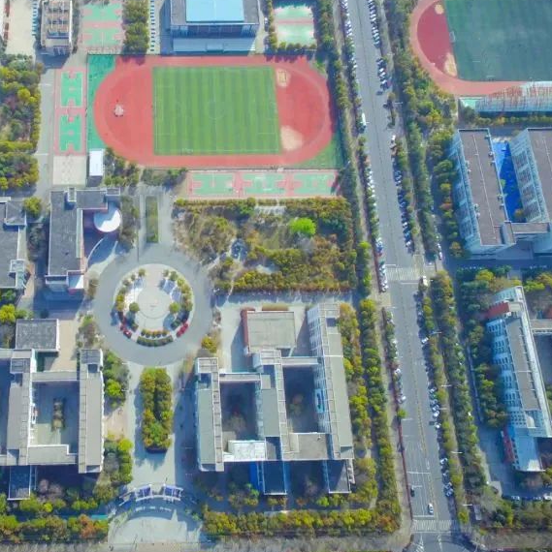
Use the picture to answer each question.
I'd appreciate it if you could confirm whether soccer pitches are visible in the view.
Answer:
Yes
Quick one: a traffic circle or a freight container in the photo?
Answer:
traffic circle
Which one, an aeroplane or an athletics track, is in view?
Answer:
athletics track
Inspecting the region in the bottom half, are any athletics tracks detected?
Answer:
No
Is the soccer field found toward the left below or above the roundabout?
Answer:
above it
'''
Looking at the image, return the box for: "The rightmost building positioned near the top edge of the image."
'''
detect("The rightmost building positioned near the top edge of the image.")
[170,0,260,59]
